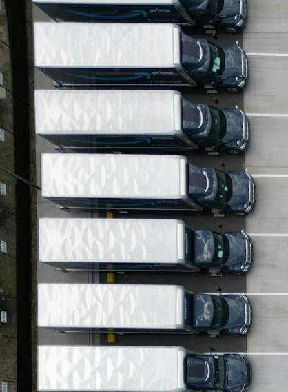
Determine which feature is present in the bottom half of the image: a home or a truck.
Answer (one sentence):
Visible in the bottom half of the image is a truck.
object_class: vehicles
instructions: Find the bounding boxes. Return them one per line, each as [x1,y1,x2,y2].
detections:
[37,345,253,392]
[31,0,247,32]
[36,282,252,336]
[33,22,248,92]
[40,153,255,214]
[37,217,253,274]
[34,90,250,155]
